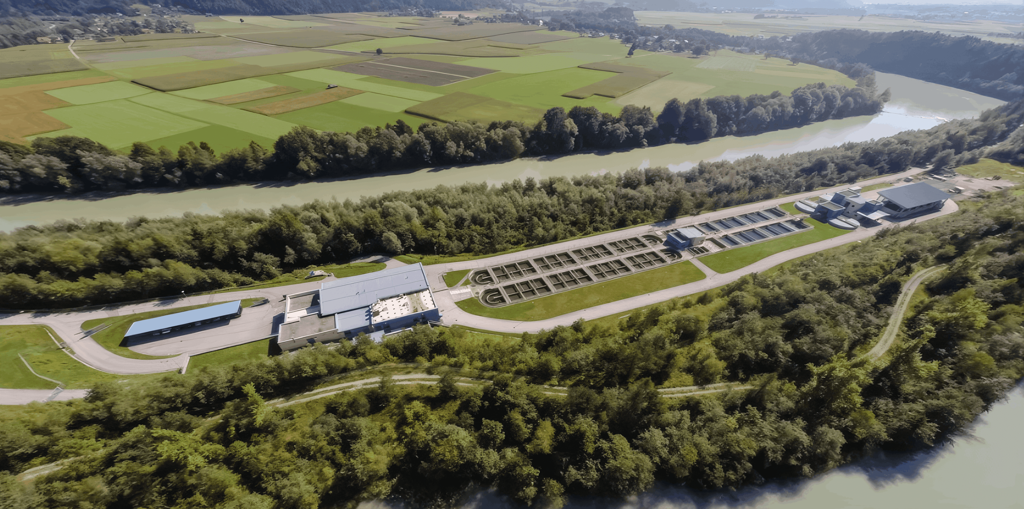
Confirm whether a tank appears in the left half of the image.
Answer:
No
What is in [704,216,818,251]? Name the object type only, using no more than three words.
storage tank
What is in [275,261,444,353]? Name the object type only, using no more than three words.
building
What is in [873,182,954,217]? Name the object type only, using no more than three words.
building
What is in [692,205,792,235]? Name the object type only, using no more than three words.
storage tank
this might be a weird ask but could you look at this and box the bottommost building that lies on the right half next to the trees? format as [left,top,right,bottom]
[666,226,706,249]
